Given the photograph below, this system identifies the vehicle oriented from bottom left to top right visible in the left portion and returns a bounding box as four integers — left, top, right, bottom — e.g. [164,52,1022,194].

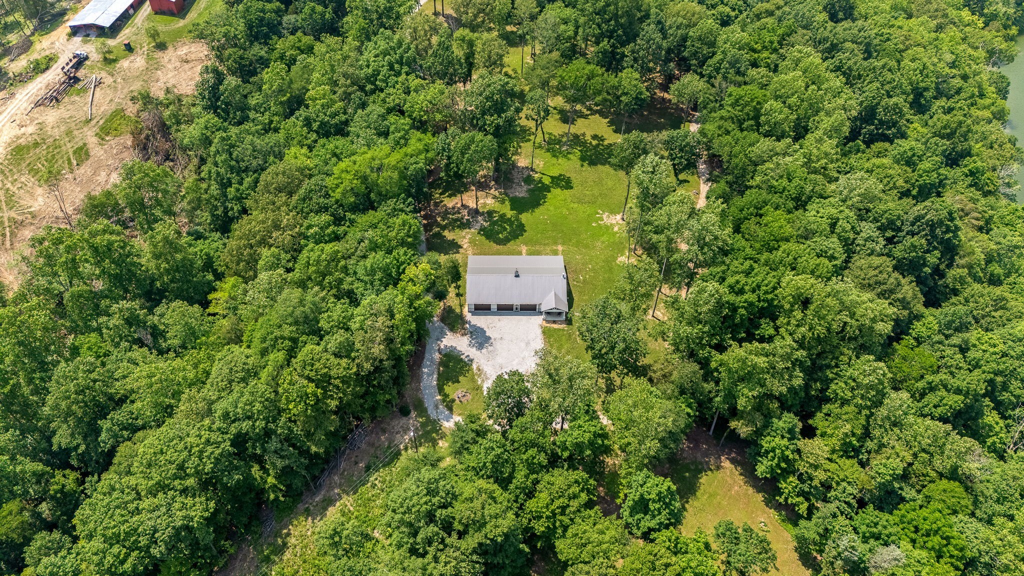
[57,52,90,78]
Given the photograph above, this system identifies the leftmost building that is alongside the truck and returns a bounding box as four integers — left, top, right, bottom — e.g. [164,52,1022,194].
[64,0,145,40]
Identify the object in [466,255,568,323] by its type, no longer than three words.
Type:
building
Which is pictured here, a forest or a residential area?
forest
